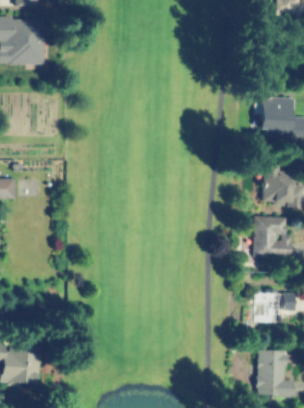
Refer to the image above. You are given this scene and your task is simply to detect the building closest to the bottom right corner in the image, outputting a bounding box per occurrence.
[258,350,296,397]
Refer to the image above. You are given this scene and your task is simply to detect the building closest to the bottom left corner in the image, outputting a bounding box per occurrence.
[0,338,40,386]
